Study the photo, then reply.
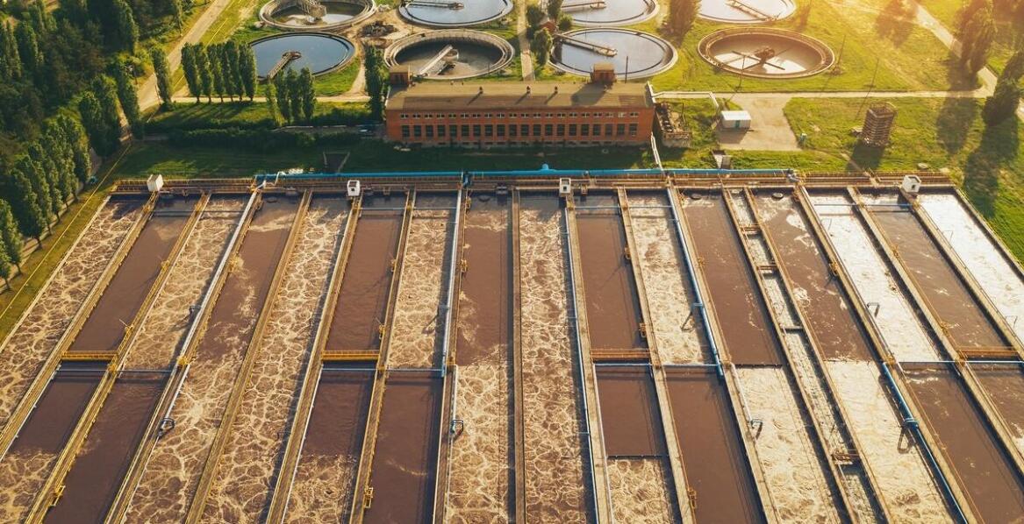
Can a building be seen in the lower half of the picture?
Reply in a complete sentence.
No, I see no building in the lower half of the picture.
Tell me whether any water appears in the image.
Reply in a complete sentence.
Yes, some water is visible.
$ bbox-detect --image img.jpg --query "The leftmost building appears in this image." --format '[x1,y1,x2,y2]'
[143,173,163,196]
